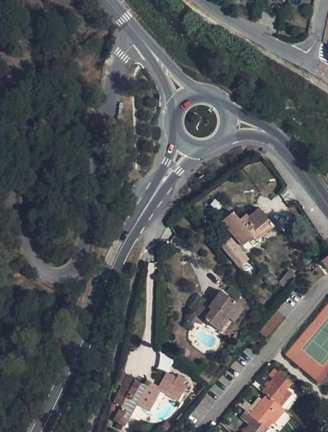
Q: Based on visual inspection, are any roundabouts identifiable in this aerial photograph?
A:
Yes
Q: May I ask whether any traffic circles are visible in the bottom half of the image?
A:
No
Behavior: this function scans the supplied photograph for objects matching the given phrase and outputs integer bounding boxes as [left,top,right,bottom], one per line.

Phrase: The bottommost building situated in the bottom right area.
[240,396,290,432]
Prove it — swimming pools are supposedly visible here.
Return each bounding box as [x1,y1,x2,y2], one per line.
[156,404,176,420]
[196,330,216,348]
